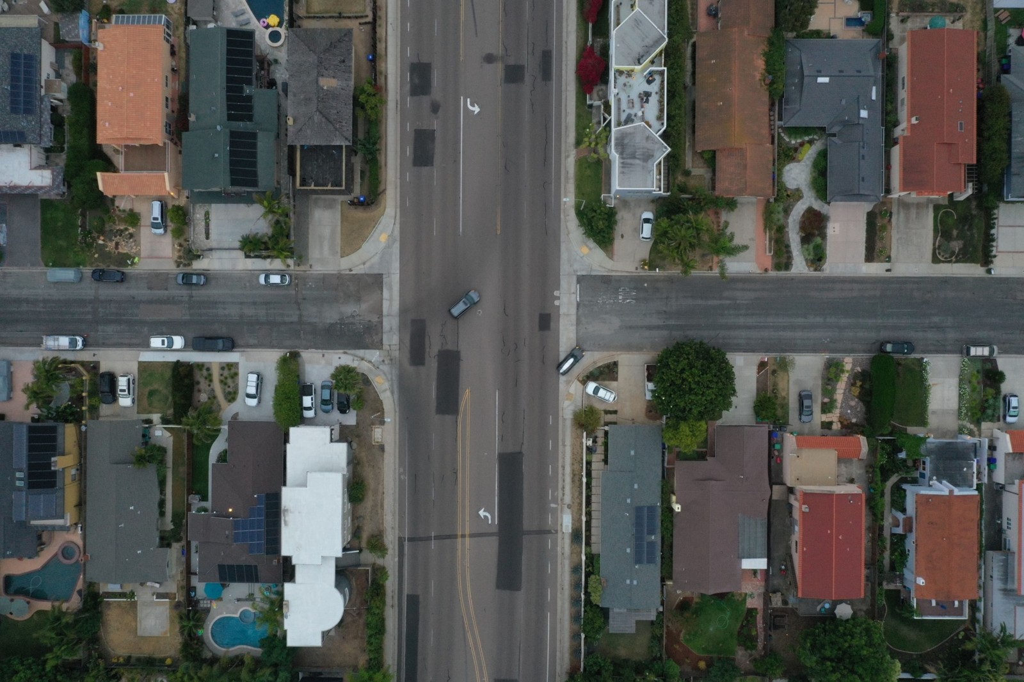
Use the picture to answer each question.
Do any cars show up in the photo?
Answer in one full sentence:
Yes, there is a car in the image.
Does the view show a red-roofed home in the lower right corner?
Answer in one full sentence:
Yes, you'll find a red-roofed home in the lower right corner.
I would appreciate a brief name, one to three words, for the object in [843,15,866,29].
swimming pool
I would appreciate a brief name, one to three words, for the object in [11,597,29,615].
umbrella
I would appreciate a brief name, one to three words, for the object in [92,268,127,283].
car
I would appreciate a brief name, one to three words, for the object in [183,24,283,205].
house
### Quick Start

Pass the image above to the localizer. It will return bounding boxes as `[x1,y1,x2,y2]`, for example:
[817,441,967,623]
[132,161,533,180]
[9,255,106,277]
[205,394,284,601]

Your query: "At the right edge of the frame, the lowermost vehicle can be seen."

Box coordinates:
[1003,393,1020,423]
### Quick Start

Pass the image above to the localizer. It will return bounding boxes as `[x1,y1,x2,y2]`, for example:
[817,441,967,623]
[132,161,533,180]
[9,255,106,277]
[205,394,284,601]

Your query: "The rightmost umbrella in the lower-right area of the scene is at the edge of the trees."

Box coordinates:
[832,601,851,619]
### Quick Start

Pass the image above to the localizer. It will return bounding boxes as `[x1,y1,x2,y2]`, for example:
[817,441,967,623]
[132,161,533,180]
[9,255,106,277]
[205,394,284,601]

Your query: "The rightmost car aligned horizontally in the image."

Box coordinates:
[961,344,997,358]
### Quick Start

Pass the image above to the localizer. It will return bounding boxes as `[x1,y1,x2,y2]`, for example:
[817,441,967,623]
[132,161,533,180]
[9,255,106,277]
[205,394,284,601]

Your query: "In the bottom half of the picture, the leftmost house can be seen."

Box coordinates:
[0,422,86,560]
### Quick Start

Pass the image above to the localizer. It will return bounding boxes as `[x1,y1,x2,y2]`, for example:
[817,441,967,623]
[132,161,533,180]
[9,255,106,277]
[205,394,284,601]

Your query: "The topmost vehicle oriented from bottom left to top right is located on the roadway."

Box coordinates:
[448,290,480,318]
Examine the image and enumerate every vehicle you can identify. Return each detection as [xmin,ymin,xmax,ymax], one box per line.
[798,390,813,423]
[448,290,480,318]
[150,201,167,234]
[245,371,262,406]
[119,374,136,405]
[92,268,127,283]
[319,380,333,412]
[0,204,10,246]
[151,335,186,349]
[99,371,117,404]
[879,341,913,355]
[640,211,653,241]
[961,344,997,358]
[177,272,208,286]
[336,390,351,416]
[302,382,316,418]
[41,335,87,351]
[48,269,83,282]
[1003,393,1020,423]
[260,272,291,286]
[584,380,617,403]
[555,346,584,375]
[193,336,235,352]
